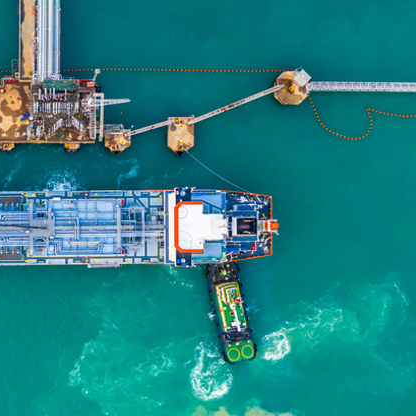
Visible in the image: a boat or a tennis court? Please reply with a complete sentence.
Looking from above, you can make out a boat.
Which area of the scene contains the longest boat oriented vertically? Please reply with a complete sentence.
The longest boat oriented vertically appears toward the bottom of the photo.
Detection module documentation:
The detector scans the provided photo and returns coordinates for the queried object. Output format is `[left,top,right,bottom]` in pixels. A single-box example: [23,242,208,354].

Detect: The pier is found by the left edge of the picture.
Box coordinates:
[20,0,63,80]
